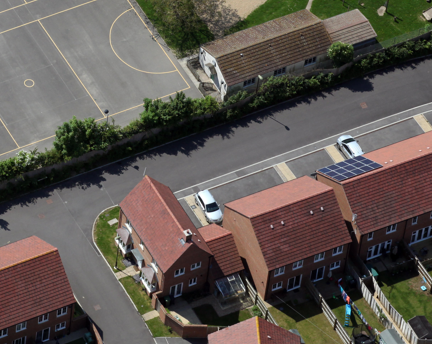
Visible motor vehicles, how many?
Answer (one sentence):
My tally gives 2 motor vehicles in this view.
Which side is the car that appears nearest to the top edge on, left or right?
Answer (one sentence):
The car that appears nearest to the top edge appears in the right half of the scene.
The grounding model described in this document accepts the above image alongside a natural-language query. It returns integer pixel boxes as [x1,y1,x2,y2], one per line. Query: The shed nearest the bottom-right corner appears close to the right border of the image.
[407,316,432,339]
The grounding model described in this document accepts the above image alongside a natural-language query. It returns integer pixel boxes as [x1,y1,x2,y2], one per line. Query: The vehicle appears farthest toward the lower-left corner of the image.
[193,187,225,224]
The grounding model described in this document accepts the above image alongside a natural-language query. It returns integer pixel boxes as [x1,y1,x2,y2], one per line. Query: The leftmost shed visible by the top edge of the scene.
[198,8,332,99]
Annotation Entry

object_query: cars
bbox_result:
[193,187,225,224]
[333,131,365,158]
